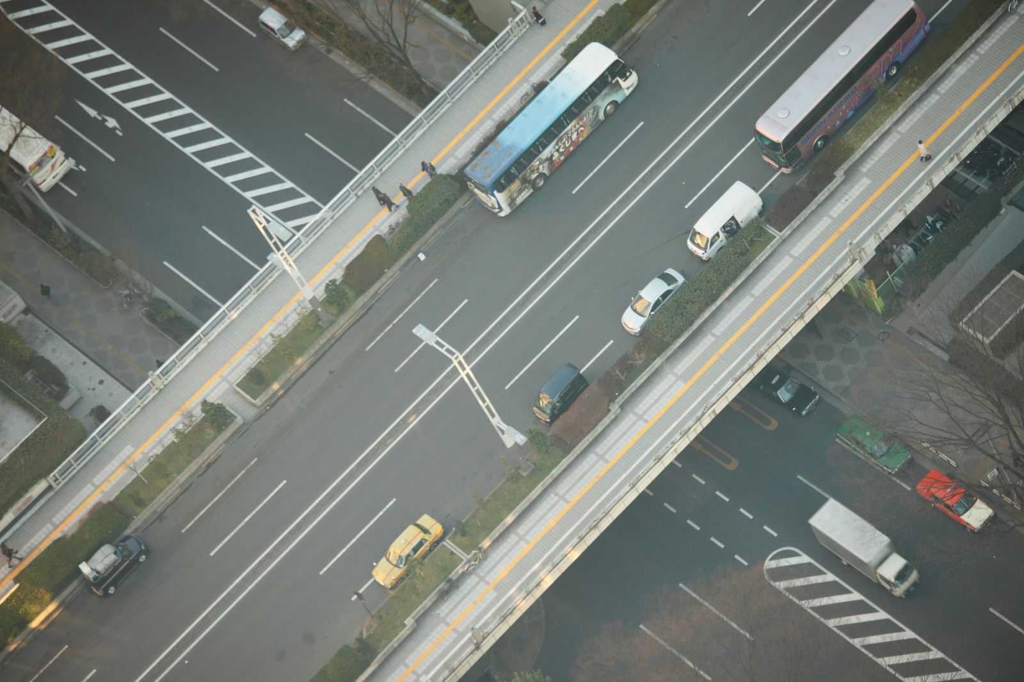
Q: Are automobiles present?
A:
Yes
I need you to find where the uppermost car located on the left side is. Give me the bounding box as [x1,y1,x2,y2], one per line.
[256,8,309,54]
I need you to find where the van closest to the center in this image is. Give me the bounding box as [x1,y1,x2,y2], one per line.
[527,357,593,425]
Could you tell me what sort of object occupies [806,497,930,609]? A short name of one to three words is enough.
truck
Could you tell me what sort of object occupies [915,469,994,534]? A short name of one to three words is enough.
car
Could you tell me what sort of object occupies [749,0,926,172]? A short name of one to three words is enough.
bus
